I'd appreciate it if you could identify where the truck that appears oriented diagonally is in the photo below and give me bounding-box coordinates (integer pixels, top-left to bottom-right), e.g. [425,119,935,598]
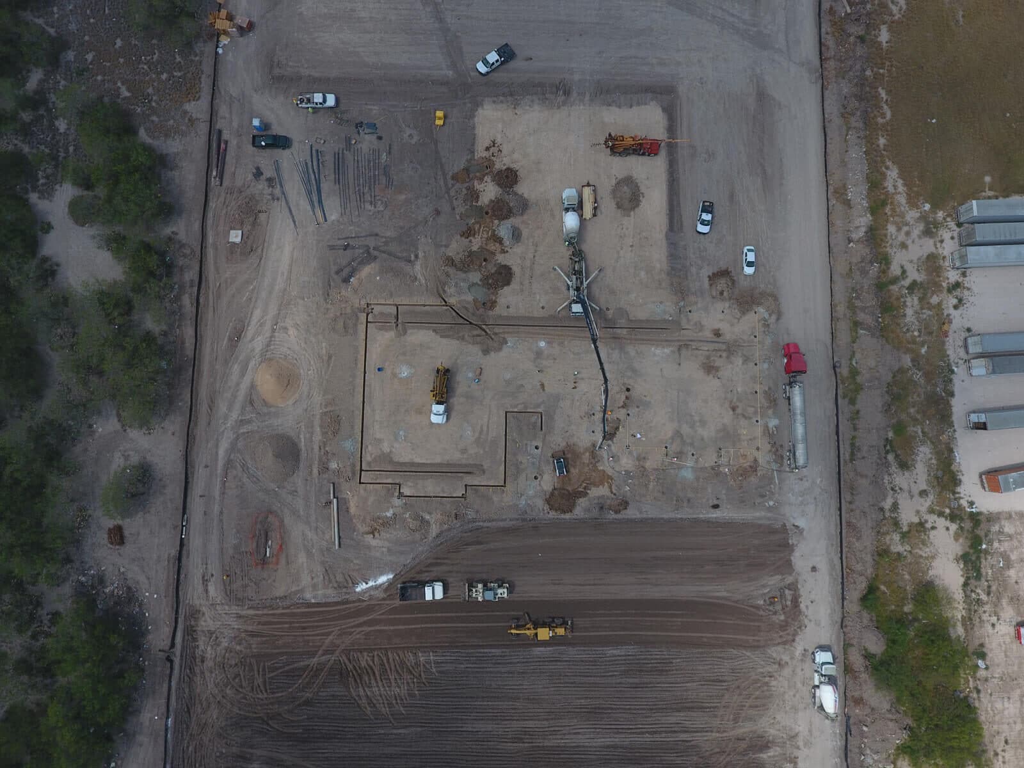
[476,39,515,72]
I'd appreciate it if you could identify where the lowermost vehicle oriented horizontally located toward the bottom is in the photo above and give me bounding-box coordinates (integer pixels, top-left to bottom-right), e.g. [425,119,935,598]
[508,614,574,639]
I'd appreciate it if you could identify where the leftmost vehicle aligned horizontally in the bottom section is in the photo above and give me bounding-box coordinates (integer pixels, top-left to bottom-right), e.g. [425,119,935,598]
[399,578,446,599]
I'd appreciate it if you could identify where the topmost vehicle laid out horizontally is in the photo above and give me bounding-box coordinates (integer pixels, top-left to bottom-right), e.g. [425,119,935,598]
[296,91,336,108]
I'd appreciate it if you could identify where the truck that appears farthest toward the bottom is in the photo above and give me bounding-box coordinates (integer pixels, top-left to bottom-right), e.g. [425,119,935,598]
[812,650,835,718]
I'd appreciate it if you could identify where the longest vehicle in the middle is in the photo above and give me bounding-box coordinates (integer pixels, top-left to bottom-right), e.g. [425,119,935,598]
[552,248,609,449]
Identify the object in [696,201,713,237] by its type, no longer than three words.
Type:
vehicle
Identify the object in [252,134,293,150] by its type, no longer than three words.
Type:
vehicle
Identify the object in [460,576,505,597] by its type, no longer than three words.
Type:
work vehicle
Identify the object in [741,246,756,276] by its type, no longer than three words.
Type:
car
